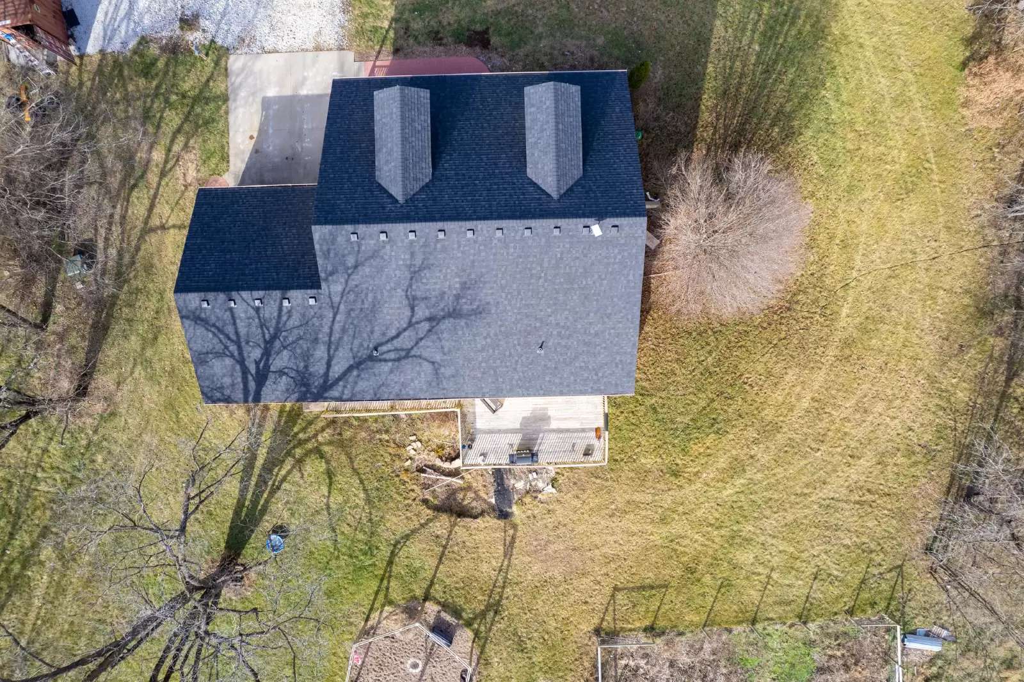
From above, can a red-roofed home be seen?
No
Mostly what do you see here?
grass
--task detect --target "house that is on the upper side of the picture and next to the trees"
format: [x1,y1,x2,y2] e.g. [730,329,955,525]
[174,68,647,405]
